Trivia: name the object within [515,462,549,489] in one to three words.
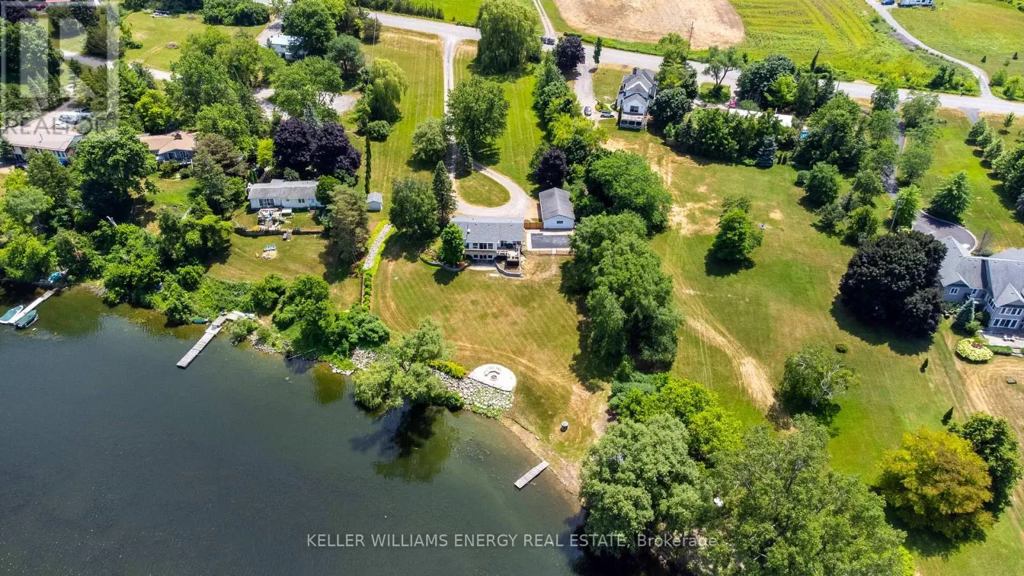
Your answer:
pier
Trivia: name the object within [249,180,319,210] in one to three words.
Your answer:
house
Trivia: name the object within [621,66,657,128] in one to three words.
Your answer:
house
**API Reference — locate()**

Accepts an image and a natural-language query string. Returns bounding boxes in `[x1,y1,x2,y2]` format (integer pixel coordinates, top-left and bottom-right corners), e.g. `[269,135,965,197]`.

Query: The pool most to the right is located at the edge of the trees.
[531,234,576,248]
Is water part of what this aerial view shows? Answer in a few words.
Yes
